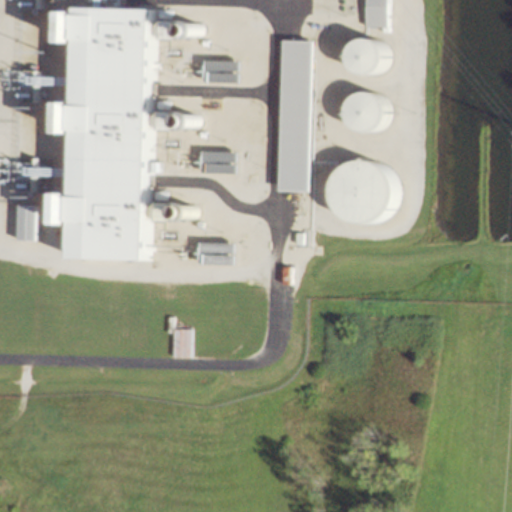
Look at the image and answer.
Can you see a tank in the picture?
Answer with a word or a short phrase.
Yes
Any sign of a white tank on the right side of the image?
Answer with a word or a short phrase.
Yes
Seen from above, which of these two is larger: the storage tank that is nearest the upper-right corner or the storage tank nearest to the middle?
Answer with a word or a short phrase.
the storage tank nearest to the middle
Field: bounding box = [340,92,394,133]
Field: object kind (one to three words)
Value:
storage tank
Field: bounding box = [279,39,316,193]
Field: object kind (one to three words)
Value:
building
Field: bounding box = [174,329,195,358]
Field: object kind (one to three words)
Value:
shed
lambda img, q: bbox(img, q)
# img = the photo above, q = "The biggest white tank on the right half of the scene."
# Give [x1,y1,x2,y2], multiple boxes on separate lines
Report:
[324,158,404,224]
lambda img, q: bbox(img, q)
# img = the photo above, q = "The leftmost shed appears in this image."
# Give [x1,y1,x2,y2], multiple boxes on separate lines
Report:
[16,204,44,241]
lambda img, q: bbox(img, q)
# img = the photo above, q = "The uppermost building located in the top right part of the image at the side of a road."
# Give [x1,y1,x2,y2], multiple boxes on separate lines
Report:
[365,0,394,33]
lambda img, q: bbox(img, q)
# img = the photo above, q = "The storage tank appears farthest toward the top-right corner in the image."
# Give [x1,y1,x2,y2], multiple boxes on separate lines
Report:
[340,38,394,76]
